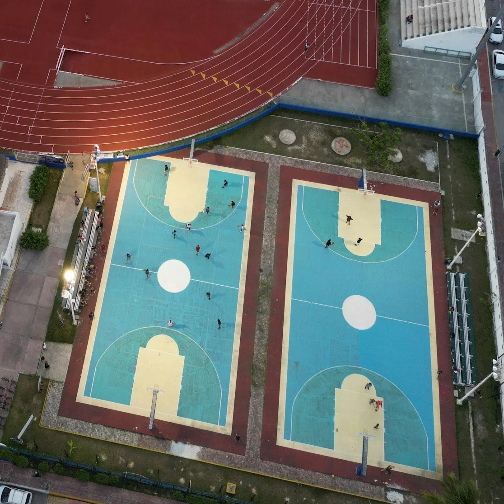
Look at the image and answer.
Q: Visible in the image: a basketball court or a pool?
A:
basketball court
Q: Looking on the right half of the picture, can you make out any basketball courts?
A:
Yes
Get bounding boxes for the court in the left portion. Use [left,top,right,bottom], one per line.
[58,151,269,455]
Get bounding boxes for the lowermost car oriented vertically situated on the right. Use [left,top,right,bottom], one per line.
[490,49,504,79]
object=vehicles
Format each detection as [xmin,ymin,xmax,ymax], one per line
[0,483,35,504]
[486,17,504,45]
[490,49,504,79]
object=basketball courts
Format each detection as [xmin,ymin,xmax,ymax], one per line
[58,151,269,455]
[259,165,458,494]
